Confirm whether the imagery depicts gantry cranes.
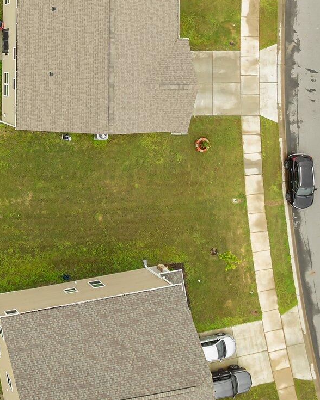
No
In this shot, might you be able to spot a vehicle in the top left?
No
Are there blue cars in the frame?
No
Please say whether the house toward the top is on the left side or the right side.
left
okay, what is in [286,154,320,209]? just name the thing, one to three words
car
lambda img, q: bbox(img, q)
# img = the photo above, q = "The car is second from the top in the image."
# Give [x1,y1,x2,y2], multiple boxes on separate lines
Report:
[204,334,237,364]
